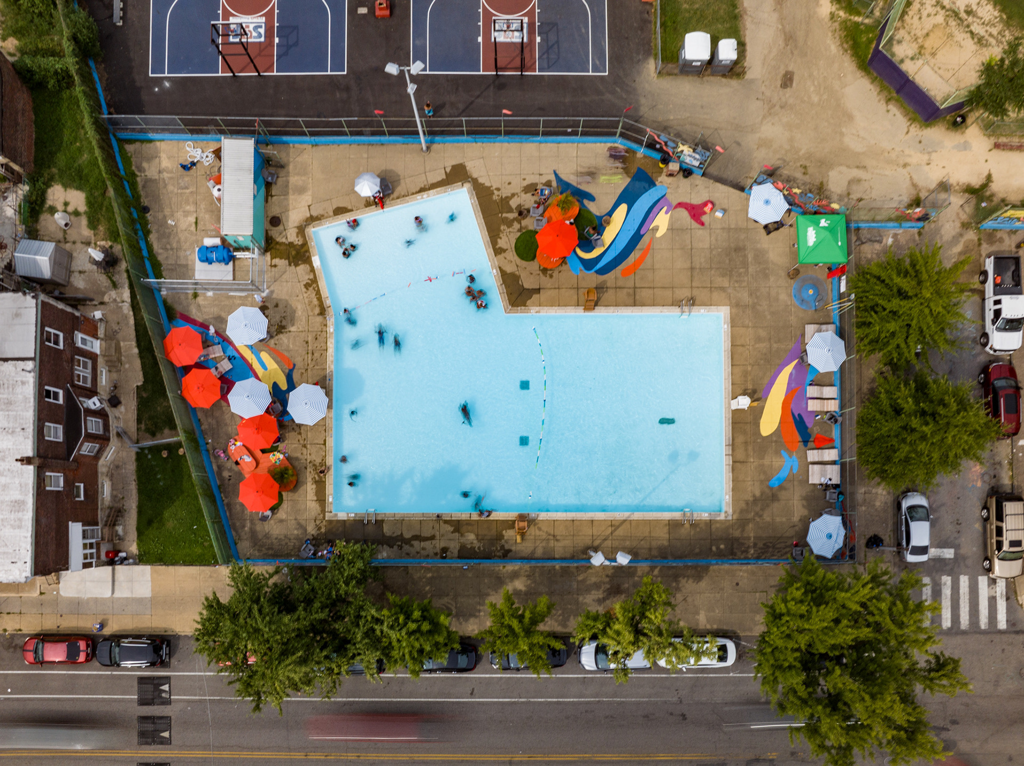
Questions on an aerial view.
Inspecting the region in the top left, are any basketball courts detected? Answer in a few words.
Yes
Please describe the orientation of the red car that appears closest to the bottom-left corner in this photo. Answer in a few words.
from side to side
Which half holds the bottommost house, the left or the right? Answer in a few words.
left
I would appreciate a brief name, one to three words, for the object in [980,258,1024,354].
truck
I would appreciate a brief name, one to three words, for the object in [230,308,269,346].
umbrella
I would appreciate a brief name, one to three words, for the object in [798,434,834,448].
umbrella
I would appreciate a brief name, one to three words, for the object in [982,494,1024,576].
car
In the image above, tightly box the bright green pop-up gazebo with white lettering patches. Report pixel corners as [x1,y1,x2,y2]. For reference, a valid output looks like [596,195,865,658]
[785,214,847,273]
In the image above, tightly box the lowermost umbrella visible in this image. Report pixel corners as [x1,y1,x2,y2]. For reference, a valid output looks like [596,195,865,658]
[805,516,840,554]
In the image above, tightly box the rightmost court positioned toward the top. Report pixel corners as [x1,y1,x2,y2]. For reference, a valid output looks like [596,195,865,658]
[411,0,608,74]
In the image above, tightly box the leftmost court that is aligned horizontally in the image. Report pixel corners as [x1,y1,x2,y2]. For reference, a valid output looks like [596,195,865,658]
[149,0,348,75]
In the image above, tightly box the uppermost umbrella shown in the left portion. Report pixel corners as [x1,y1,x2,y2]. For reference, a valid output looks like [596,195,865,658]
[356,174,381,200]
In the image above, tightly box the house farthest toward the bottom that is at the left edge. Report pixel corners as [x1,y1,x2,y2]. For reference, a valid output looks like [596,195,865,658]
[0,360,118,587]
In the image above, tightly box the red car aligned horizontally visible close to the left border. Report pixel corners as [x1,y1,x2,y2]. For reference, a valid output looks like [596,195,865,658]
[26,633,100,668]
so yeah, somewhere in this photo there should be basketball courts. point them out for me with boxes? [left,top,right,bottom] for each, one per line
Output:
[411,0,608,74]
[149,0,348,75]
